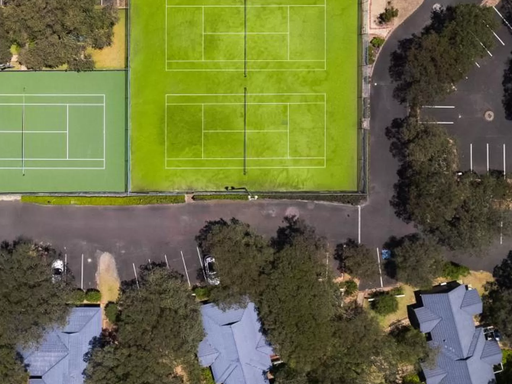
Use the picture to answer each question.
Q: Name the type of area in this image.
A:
sports ground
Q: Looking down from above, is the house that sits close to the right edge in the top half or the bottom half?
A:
bottom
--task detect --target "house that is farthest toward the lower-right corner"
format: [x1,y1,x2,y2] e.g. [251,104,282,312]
[411,281,502,384]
